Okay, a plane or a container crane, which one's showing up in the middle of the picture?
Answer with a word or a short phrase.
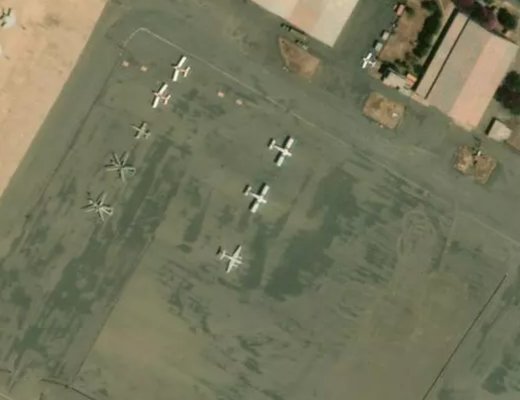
plane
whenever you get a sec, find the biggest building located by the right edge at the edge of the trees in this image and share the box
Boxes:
[416,11,518,131]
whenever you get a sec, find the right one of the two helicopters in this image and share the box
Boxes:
[106,153,136,182]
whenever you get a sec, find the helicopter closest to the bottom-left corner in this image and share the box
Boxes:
[84,193,114,222]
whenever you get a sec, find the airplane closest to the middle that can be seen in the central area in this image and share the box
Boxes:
[245,185,270,214]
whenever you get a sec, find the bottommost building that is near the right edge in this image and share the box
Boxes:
[489,119,512,142]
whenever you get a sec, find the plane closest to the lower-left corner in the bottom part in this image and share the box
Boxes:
[219,245,243,273]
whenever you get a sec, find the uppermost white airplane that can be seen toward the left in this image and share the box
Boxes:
[172,56,189,82]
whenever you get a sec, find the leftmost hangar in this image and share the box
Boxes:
[251,0,359,47]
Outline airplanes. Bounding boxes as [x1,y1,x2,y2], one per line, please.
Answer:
[172,56,189,82]
[219,245,243,273]
[132,122,151,139]
[363,54,375,68]
[153,84,170,109]
[271,137,294,167]
[245,185,270,214]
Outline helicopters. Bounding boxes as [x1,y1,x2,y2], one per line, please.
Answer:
[106,153,136,182]
[84,193,114,222]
